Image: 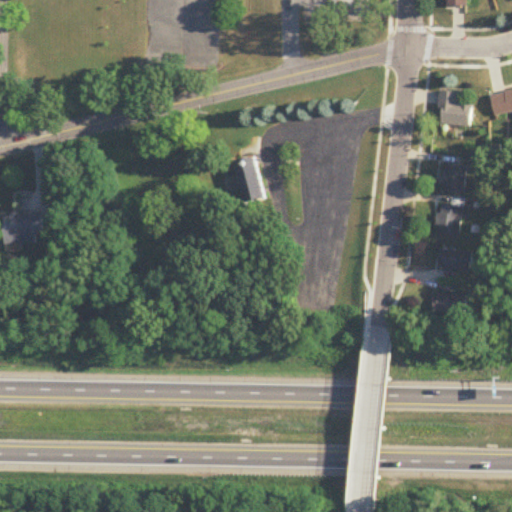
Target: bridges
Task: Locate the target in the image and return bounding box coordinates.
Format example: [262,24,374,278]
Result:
[344,334,390,512]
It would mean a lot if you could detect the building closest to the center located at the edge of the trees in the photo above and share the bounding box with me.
[242,156,266,200]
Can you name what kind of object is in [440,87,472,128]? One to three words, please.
house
